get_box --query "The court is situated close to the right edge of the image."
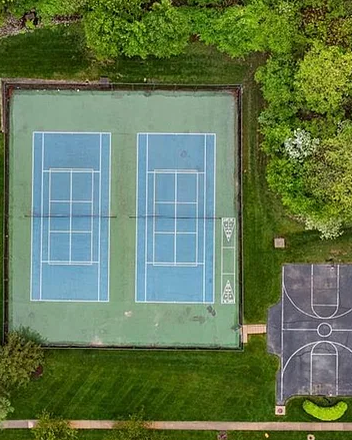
[282,265,352,401]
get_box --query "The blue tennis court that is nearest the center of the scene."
[136,134,222,303]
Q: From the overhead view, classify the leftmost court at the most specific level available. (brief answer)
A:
tennis court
